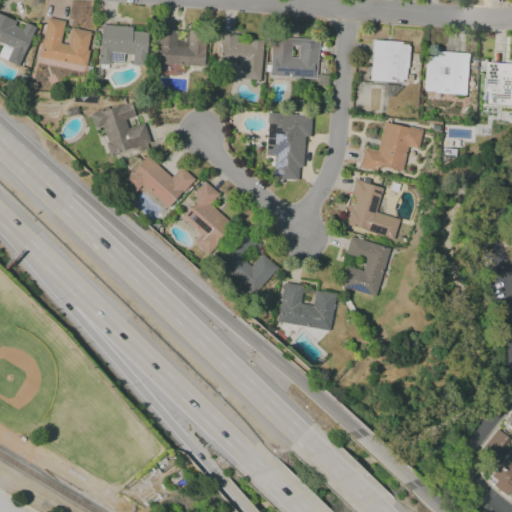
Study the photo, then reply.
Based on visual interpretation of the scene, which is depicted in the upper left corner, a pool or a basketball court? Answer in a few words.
pool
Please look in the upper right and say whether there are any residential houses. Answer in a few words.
Yes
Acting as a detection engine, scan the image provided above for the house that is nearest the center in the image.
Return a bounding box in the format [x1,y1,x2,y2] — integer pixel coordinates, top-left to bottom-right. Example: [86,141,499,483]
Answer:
[232,256,278,291]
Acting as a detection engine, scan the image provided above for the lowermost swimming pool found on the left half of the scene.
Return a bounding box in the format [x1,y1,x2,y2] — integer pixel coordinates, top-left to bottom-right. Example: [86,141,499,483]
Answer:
[172,226,192,246]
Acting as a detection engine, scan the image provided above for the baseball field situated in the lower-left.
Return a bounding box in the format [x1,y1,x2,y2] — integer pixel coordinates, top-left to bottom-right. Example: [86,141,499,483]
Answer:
[0,270,168,486]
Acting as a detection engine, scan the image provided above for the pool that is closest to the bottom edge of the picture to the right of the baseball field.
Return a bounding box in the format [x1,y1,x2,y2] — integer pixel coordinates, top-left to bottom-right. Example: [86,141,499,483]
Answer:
[296,332,323,364]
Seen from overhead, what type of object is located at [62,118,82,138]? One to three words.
swimming pool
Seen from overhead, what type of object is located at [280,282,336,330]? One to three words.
house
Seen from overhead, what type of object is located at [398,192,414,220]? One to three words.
swimming pool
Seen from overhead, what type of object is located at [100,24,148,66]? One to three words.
house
